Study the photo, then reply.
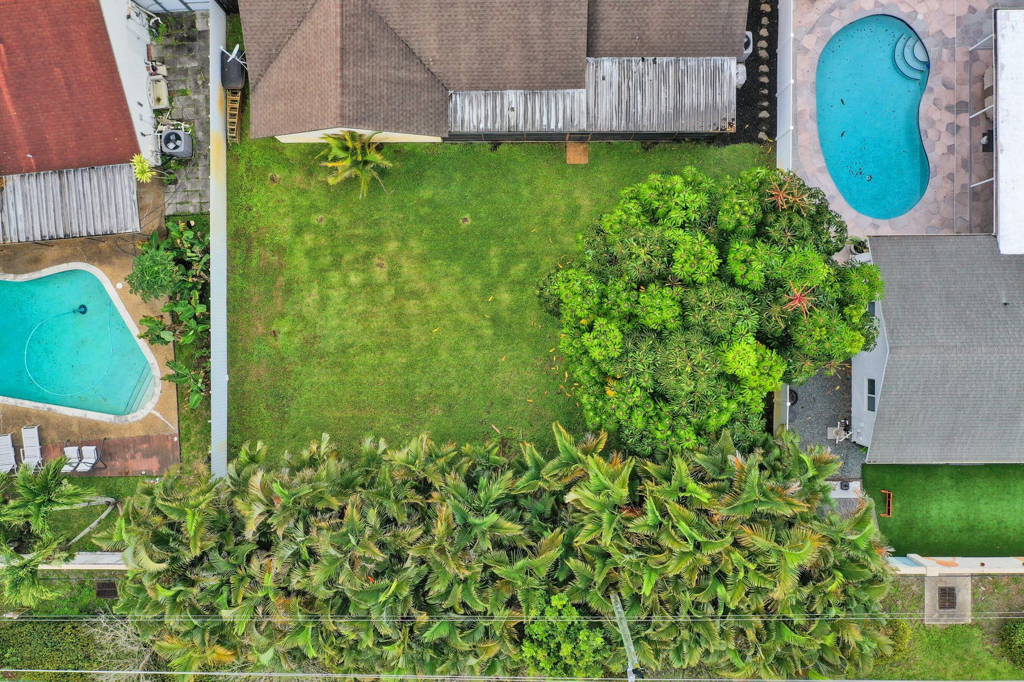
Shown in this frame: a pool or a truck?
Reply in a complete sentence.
The one in the frame is a pool.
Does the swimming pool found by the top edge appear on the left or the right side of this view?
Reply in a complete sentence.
The swimming pool found by the top edge is on the right side of the image.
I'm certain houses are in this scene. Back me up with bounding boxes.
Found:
[852,233,1024,466]
[0,0,165,254]
[238,0,751,143]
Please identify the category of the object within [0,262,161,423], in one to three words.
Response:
swimming pool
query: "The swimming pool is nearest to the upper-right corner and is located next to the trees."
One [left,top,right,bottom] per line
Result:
[816,14,930,220]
